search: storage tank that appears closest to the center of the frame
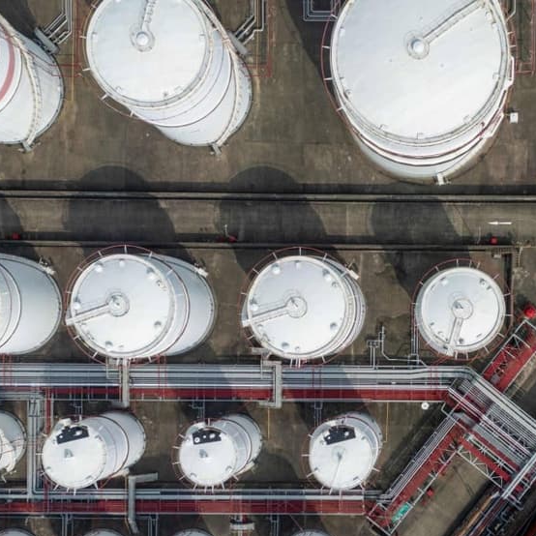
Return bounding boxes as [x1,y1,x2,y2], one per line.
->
[240,246,365,368]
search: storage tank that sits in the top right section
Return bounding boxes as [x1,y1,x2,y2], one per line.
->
[323,0,518,187]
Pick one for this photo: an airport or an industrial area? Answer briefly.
industrial area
